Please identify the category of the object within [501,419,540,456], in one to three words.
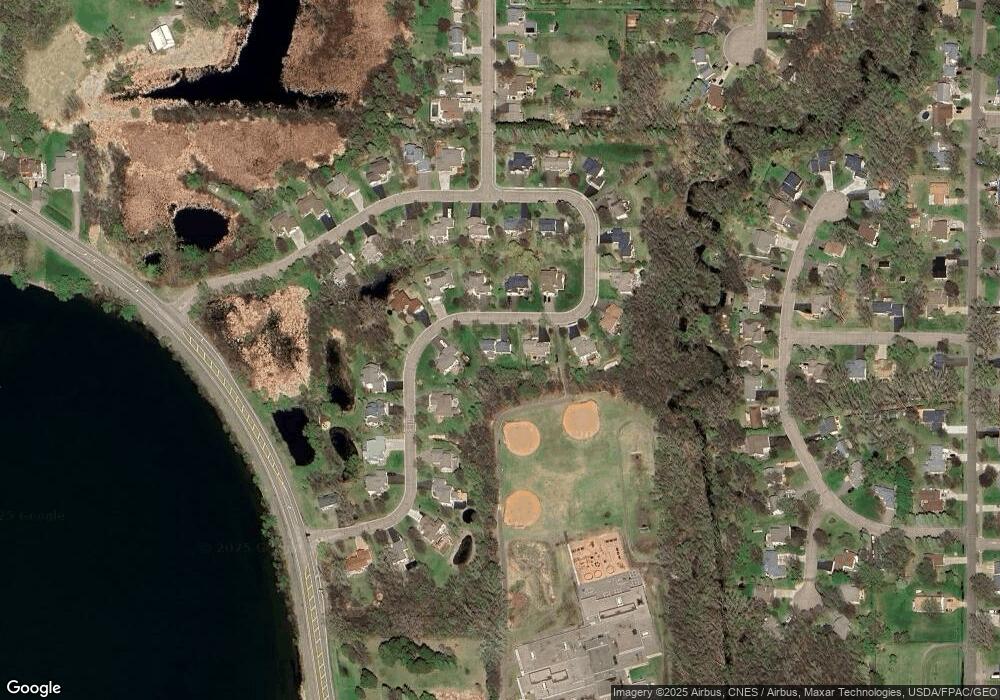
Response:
baseball field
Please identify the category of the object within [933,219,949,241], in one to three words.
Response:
house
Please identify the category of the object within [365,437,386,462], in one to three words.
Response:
house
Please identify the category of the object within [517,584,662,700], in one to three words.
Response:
building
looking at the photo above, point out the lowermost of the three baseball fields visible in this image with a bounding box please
[502,489,541,528]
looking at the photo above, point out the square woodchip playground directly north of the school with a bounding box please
[567,532,629,584]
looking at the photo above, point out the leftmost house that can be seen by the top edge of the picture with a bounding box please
[149,26,173,54]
